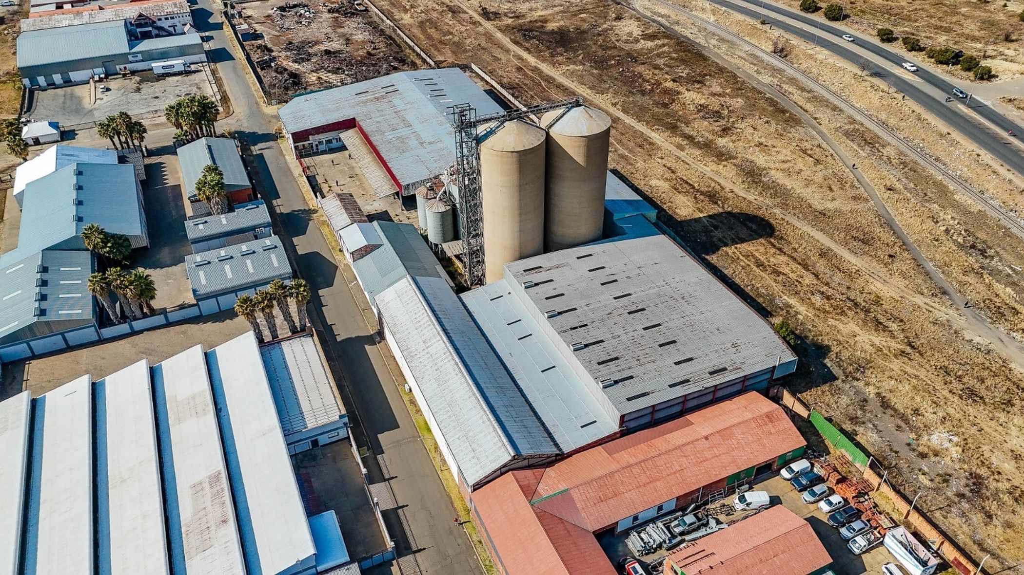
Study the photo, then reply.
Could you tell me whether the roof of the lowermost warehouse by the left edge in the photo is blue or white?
white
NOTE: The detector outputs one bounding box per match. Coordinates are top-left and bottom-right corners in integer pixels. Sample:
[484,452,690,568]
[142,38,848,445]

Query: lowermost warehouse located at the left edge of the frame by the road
[0,329,319,575]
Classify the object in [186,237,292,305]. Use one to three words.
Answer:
building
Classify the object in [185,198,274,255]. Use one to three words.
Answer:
building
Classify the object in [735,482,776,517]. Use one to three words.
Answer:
vehicle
